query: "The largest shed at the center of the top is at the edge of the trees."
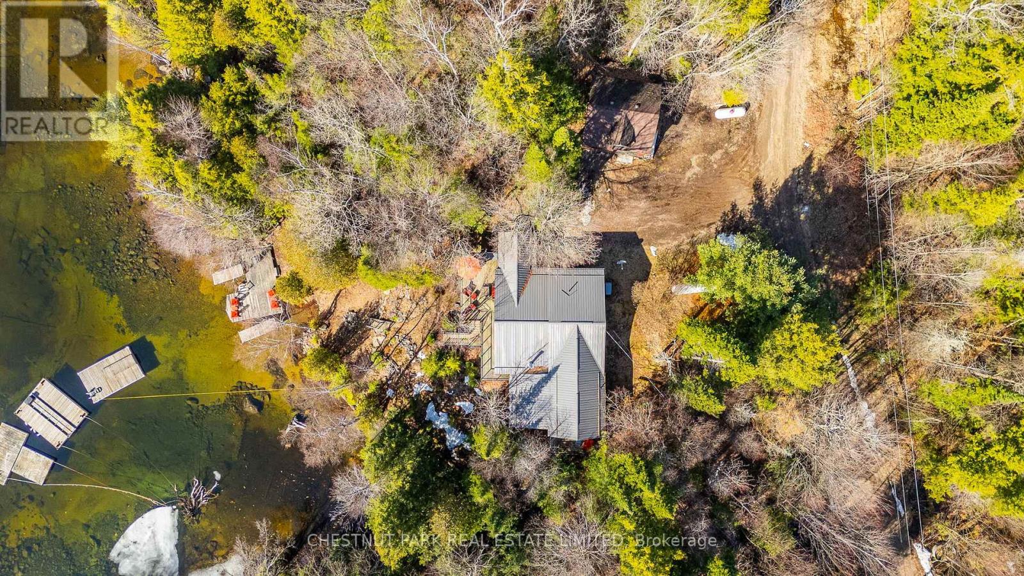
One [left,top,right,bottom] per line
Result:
[582,86,660,162]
